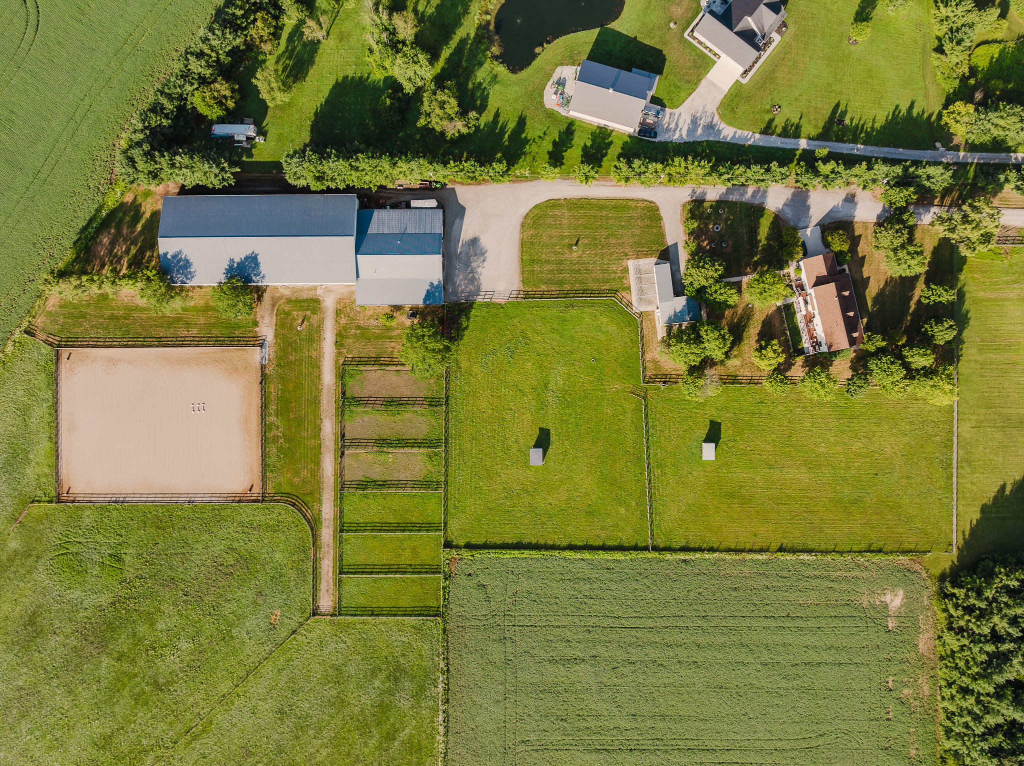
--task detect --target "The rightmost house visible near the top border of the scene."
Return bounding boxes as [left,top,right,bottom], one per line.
[693,0,787,71]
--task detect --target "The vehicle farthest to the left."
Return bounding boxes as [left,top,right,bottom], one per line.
[212,124,260,137]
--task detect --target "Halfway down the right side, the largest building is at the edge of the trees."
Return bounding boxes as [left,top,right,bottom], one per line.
[797,253,864,352]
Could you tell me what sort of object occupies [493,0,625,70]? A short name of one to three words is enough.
pond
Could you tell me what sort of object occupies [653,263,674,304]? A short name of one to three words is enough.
building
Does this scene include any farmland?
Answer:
Yes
